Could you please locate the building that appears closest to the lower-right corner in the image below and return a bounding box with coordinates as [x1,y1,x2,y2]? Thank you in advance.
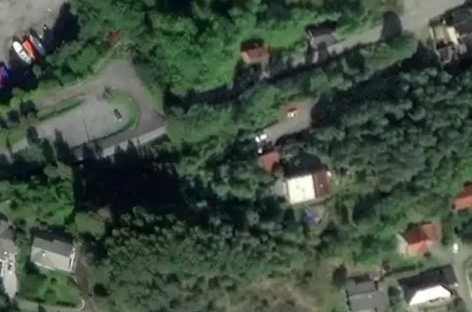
[401,265,456,312]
